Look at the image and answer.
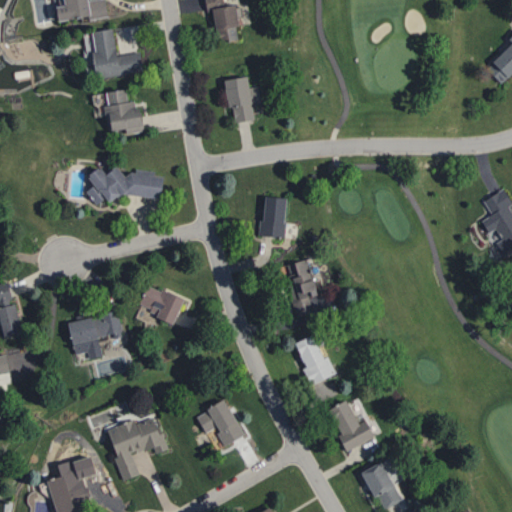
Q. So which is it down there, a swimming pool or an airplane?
swimming pool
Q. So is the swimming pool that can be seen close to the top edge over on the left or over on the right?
left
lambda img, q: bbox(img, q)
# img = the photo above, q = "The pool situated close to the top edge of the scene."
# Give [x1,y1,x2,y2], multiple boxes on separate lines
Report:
[32,0,54,29]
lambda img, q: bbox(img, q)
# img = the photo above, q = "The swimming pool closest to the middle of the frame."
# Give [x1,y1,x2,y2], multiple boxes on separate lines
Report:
[308,262,324,286]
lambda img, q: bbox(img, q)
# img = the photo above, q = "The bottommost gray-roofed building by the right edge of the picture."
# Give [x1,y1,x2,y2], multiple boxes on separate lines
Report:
[482,188,512,233]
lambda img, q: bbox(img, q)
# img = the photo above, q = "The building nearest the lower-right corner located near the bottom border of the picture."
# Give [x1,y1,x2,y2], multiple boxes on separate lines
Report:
[363,460,400,510]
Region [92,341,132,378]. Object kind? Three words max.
swimming pool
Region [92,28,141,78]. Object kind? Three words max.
house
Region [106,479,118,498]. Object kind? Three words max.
vehicle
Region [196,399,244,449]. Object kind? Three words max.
house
